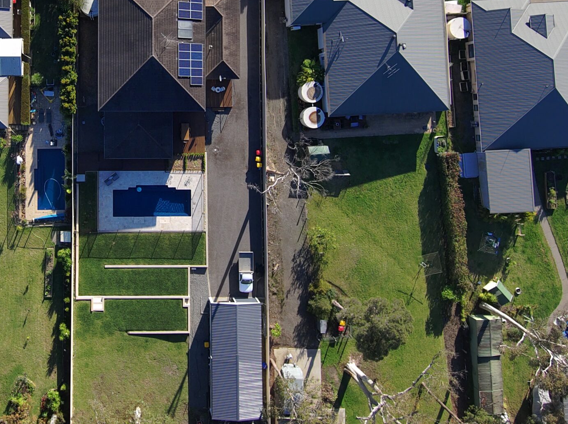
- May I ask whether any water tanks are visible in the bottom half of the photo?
No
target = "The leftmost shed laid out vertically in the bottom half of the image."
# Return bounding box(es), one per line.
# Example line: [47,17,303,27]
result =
[209,297,263,422]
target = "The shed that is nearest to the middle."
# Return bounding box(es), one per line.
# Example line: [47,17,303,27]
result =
[305,145,330,162]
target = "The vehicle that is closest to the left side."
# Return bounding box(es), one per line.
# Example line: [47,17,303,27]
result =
[237,250,255,292]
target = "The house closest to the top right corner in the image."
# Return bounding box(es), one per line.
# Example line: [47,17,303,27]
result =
[465,0,568,152]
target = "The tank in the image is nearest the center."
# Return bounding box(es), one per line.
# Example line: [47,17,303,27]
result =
[297,104,324,130]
